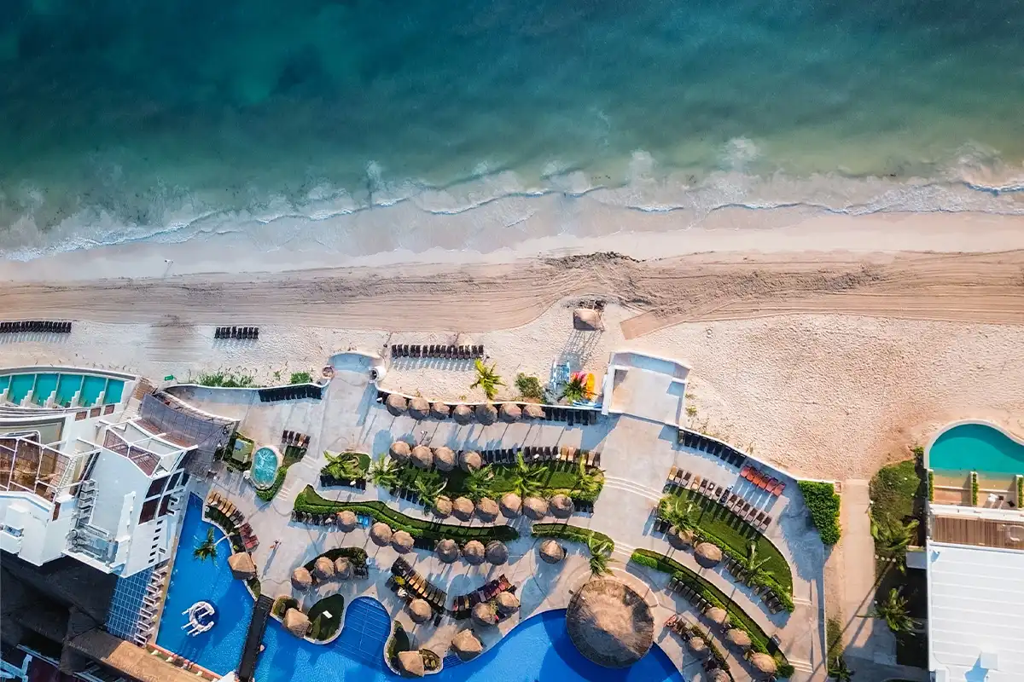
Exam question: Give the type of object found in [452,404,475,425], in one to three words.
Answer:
umbrella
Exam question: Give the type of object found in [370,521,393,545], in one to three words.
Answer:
umbrella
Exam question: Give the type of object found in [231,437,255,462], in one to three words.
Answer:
shed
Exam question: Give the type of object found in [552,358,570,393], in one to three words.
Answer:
boat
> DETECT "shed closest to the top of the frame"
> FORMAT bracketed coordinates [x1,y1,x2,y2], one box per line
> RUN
[573,303,603,331]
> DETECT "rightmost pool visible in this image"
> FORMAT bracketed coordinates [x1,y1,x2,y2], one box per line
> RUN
[924,419,1024,507]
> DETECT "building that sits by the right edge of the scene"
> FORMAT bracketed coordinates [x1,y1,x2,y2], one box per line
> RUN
[924,503,1024,682]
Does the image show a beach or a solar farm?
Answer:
beach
